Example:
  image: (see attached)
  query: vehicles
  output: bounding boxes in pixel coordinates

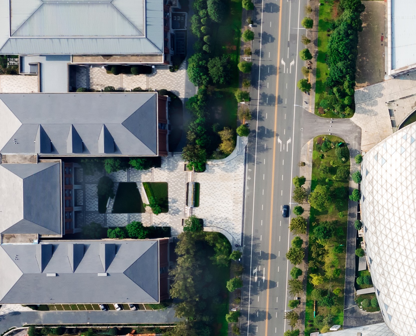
[113,304,122,314]
[283,205,289,217]
[128,304,138,314]
[98,304,108,314]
